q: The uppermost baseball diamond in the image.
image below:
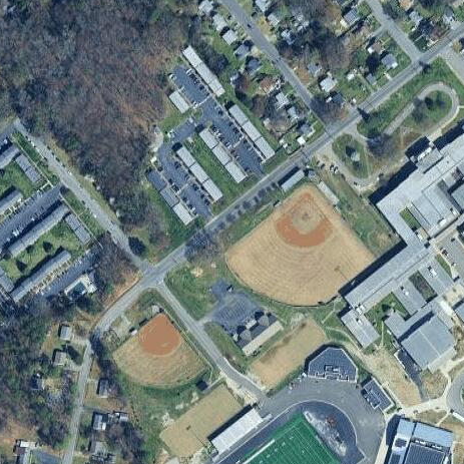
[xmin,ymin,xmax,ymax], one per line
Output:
[226,184,377,306]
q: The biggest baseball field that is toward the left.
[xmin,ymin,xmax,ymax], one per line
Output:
[113,313,208,387]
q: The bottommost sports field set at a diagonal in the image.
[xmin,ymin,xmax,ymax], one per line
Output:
[160,383,244,461]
